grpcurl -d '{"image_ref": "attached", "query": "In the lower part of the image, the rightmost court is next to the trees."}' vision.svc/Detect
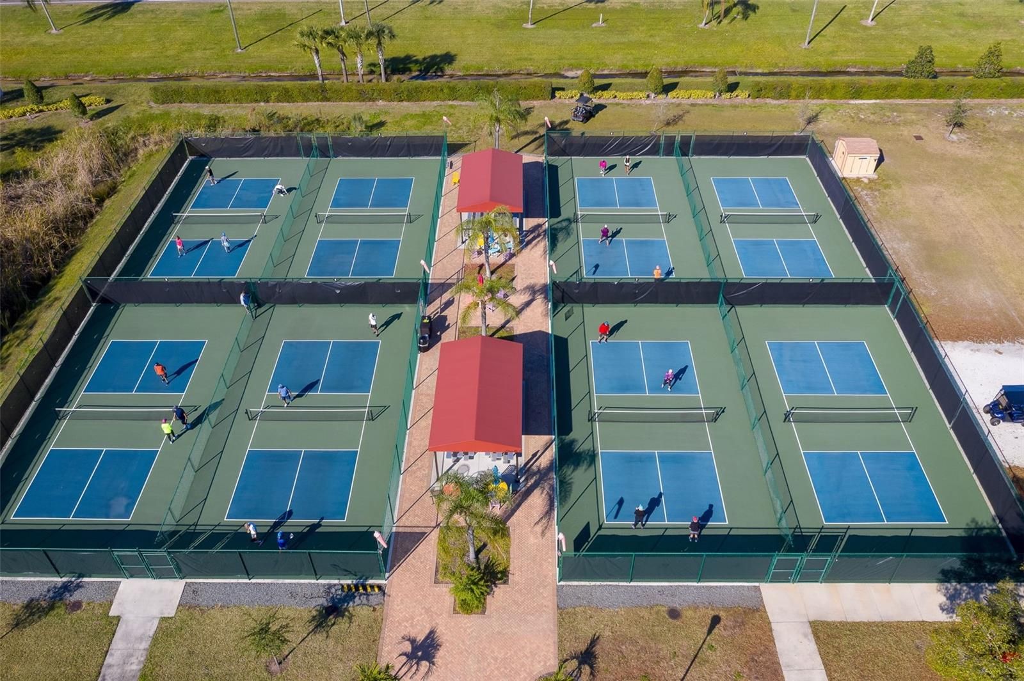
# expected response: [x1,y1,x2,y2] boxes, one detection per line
[717,305,1020,580]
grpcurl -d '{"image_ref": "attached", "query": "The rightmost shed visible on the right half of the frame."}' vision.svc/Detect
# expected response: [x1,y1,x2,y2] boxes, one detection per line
[831,133,883,176]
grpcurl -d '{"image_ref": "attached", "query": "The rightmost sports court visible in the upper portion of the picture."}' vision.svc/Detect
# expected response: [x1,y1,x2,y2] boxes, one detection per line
[676,157,883,305]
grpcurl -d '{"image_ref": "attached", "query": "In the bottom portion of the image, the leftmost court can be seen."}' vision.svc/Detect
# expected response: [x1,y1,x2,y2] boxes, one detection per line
[0,304,261,574]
